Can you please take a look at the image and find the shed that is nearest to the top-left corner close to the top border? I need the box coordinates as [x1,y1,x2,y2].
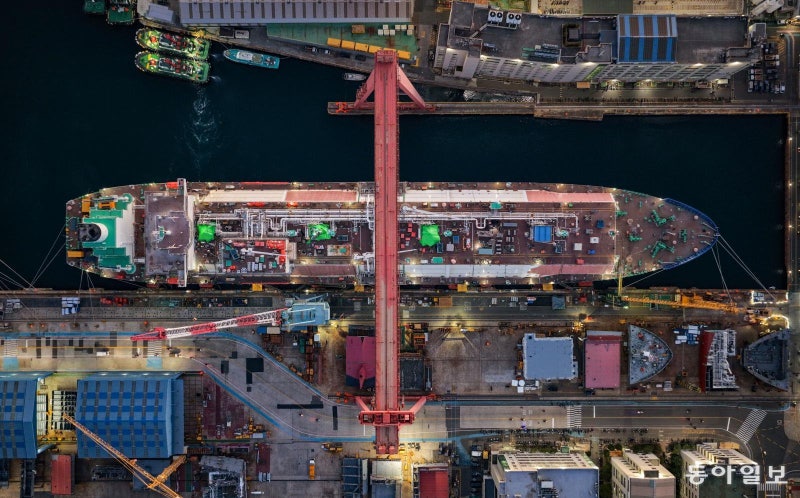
[146,3,175,26]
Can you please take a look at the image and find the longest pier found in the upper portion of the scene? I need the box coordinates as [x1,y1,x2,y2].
[327,101,785,121]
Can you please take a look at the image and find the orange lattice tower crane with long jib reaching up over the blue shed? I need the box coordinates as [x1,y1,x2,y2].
[62,415,189,498]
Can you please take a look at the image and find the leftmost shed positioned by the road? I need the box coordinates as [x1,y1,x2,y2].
[0,368,37,459]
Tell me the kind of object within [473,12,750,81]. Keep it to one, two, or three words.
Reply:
building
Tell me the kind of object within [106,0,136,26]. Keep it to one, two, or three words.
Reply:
ship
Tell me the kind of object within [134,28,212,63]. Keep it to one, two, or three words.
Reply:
boat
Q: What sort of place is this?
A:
port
